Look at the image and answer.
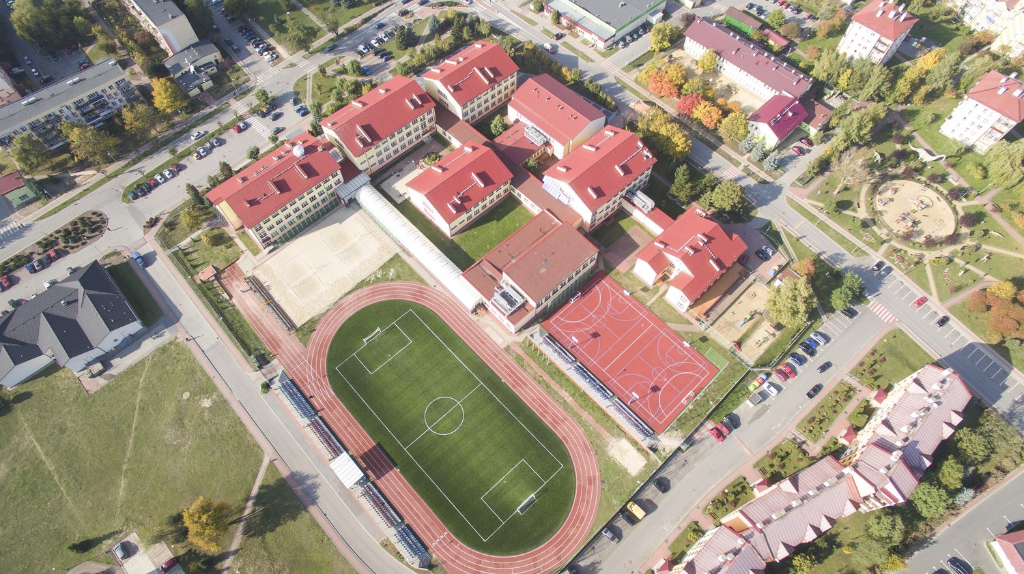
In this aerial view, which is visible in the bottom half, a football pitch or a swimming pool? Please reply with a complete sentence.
Visible in the bottom half is a football pitch.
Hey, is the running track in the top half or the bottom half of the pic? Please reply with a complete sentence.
The running track sits in the bottom half of the picture.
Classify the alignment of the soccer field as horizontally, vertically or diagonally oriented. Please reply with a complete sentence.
The soccer field is oriented diagonally.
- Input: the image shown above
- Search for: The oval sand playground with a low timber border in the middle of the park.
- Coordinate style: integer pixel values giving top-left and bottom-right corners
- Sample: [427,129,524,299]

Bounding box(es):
[875,178,958,242]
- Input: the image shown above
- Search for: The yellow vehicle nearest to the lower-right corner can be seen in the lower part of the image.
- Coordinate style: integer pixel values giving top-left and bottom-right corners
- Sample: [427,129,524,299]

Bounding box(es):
[626,501,648,522]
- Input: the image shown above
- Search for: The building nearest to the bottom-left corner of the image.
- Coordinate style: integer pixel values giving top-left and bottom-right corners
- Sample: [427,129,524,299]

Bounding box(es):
[0,260,144,386]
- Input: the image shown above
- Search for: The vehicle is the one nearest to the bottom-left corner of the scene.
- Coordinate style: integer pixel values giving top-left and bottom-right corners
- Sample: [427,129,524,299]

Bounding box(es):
[111,542,129,561]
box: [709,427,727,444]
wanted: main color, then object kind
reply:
red car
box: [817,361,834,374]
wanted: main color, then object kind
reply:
gray vehicle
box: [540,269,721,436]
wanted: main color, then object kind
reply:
red sports court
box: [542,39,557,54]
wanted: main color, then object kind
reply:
white vehicle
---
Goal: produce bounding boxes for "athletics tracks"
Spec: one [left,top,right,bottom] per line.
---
[210,261,600,574]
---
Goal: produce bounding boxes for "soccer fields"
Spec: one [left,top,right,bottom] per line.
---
[329,302,573,553]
